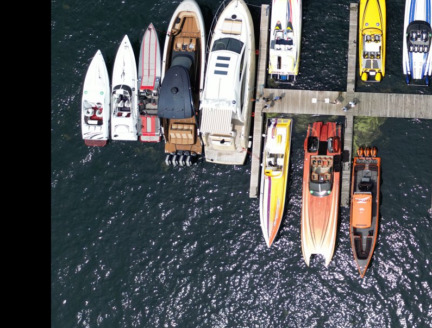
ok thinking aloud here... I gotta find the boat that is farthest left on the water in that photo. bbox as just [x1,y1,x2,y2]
[84,50,113,146]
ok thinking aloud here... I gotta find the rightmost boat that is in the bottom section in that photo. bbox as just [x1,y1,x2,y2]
[350,146,382,278]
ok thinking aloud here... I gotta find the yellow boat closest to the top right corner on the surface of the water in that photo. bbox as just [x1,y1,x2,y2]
[360,0,387,81]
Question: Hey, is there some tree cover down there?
No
